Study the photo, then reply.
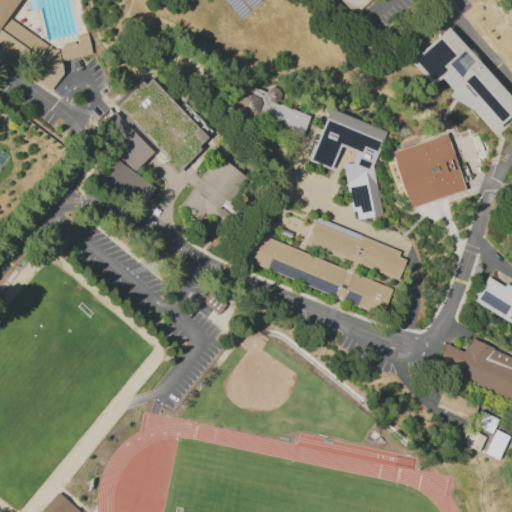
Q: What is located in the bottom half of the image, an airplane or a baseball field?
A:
baseball field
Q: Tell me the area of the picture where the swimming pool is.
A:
top left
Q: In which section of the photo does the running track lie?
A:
bottom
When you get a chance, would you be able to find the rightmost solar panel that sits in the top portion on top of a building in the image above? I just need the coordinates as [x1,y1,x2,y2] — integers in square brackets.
[468,76,510,120]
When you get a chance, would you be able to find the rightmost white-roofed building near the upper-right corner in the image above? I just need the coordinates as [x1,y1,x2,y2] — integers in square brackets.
[416,29,512,129]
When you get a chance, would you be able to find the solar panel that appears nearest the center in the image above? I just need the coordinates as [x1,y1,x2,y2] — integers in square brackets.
[270,259,338,294]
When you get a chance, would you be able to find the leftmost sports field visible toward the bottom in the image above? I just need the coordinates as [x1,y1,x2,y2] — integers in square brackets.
[0,264,153,510]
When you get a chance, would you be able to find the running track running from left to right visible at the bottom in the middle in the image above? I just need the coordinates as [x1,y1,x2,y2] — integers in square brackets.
[94,414,457,512]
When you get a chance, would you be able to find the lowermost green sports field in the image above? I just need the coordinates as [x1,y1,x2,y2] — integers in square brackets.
[164,438,440,512]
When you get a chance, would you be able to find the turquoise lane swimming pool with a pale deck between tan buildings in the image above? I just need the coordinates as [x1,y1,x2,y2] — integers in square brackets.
[13,0,89,49]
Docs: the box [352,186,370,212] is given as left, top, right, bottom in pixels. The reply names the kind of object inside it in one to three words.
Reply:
solar panel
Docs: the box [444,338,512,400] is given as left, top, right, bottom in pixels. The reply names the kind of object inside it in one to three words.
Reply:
house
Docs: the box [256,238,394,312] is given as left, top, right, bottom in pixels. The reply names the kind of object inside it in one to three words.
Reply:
building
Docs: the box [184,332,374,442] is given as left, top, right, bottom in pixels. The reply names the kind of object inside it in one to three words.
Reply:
baseball field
